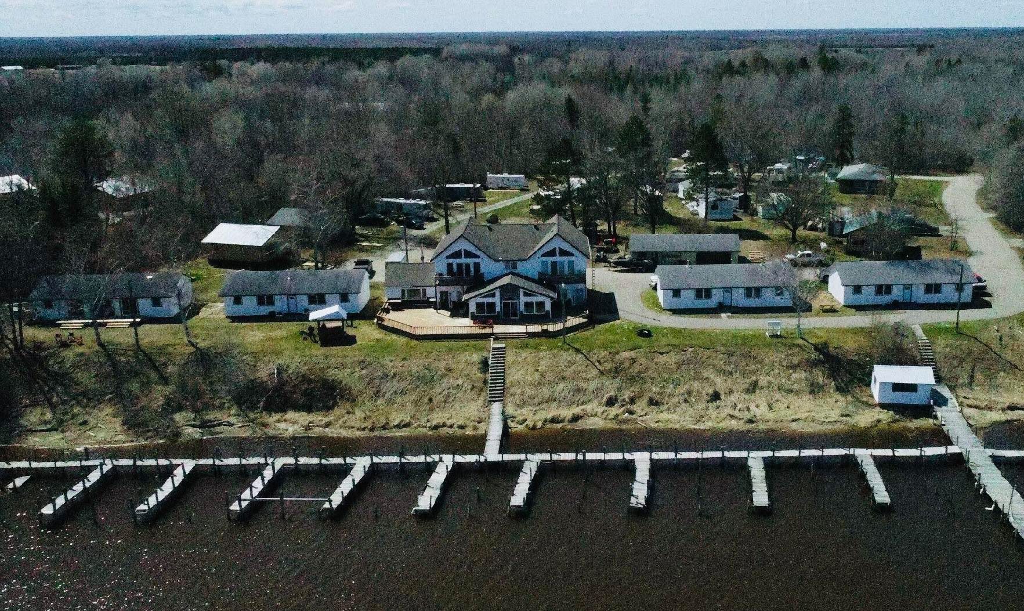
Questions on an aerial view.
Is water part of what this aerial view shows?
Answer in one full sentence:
Yes, water can be seen from above here.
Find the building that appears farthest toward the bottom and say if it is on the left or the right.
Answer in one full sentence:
The building that appears farthest toward the bottom appears in the right half of the scene.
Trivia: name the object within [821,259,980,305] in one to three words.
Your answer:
building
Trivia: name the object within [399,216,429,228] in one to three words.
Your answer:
vehicle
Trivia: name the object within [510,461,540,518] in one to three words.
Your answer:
pier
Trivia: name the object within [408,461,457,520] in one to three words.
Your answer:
pier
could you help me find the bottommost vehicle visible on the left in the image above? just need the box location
[354,261,377,278]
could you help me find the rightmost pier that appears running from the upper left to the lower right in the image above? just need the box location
[929,393,1024,538]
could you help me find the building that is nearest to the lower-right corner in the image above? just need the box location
[863,368,935,405]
